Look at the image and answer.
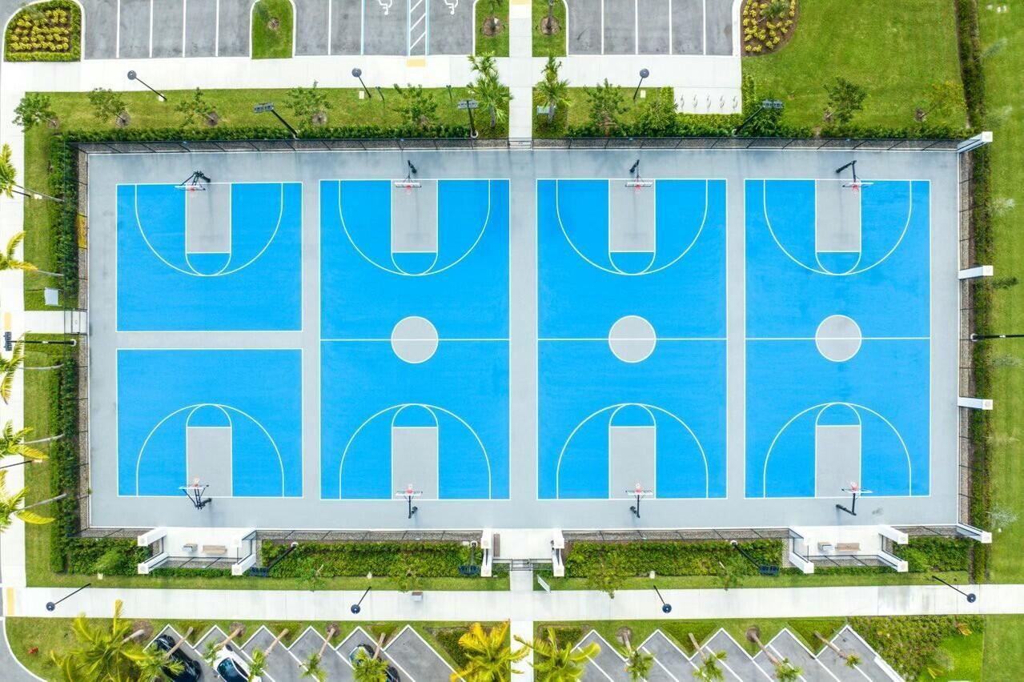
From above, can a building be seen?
No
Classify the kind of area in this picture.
sports ground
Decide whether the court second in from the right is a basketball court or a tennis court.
basketball court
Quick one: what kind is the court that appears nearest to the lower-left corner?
basketball court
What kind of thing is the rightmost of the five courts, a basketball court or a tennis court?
basketball court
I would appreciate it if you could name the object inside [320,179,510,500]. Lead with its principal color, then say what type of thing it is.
blue basketball court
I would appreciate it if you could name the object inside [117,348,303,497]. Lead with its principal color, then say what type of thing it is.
blue basketball court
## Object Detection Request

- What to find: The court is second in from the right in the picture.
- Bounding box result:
[537,179,727,500]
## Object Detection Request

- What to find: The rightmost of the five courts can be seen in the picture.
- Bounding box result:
[745,180,931,499]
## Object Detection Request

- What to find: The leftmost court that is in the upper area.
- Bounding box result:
[116,183,303,331]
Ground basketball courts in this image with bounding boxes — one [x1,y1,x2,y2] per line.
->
[320,179,510,500]
[116,183,303,331]
[745,180,931,499]
[537,179,727,500]
[117,348,303,497]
